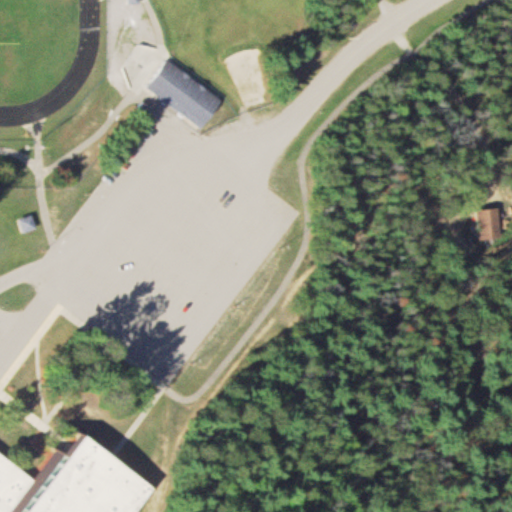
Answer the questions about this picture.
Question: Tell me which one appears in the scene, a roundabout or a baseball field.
baseball field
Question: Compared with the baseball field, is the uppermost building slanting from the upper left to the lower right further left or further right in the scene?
left of it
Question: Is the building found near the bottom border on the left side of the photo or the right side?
left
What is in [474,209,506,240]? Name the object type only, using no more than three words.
house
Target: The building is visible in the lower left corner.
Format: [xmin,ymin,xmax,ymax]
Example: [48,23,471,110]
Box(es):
[0,434,156,512]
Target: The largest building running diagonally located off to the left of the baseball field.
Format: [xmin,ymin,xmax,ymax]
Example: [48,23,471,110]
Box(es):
[148,61,221,130]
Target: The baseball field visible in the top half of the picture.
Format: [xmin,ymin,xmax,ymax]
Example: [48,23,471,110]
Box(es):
[224,48,266,108]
